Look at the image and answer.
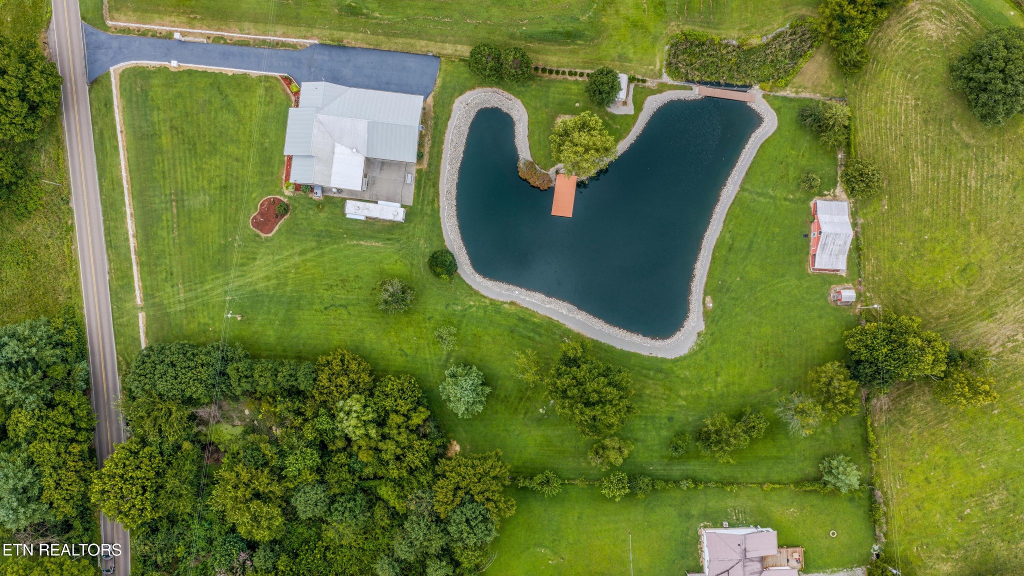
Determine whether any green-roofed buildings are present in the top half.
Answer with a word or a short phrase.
No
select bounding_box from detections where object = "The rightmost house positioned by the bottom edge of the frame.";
[703,527,798,576]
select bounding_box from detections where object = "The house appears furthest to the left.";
[284,78,424,192]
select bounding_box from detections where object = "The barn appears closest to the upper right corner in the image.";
[811,200,854,272]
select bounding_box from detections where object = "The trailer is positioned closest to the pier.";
[345,200,412,223]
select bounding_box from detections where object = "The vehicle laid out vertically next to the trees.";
[97,543,113,575]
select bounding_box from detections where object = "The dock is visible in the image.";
[551,174,577,217]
